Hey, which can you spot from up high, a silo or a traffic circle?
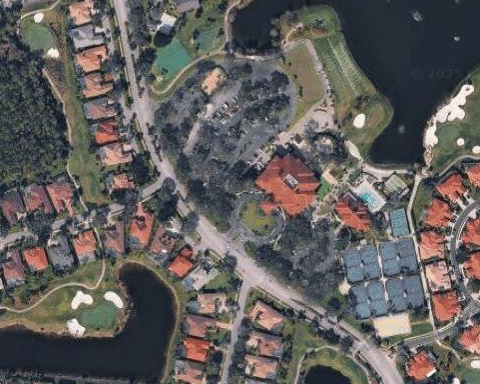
traffic circle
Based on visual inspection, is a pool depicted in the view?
Yes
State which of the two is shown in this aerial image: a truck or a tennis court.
tennis court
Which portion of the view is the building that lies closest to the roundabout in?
center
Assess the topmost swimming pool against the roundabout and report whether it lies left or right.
right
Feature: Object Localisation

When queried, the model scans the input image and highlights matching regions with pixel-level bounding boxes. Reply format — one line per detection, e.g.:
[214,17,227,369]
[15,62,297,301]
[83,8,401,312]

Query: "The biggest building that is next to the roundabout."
[251,150,324,220]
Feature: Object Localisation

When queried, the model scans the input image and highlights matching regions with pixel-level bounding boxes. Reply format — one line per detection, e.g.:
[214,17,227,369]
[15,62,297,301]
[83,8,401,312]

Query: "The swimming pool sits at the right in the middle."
[353,180,385,212]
